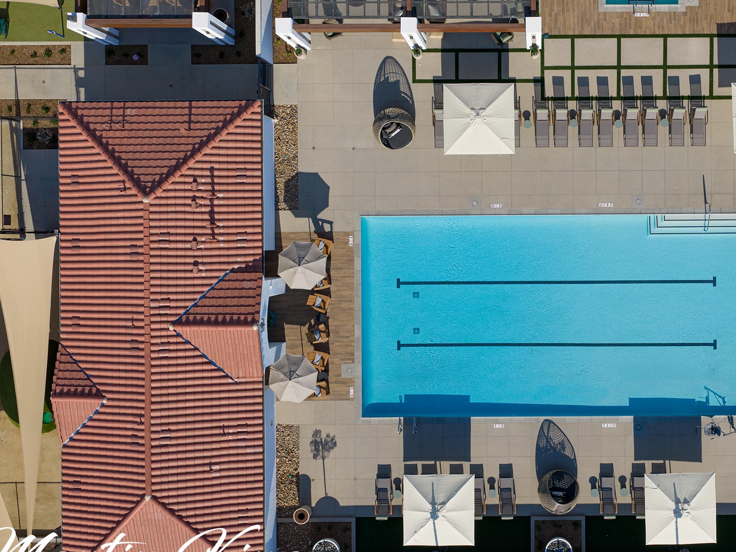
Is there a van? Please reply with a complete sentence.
No, there is no van in the image.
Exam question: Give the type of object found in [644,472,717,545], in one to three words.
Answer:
umbrella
